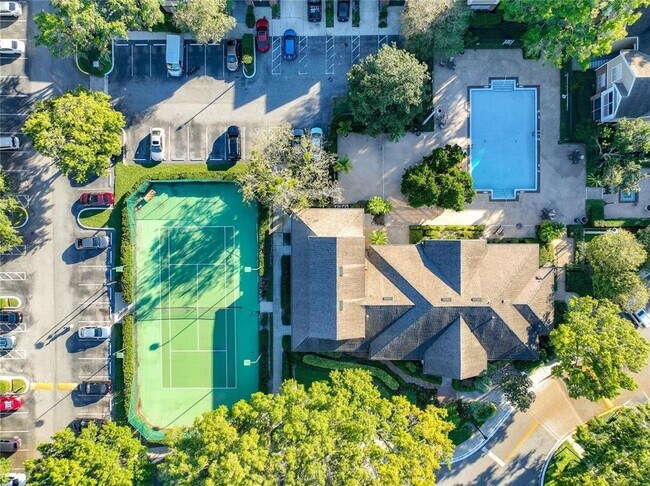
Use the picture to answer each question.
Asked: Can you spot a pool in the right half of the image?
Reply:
Yes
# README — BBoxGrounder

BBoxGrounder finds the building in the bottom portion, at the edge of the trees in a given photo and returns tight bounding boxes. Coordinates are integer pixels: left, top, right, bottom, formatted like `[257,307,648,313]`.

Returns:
[290,208,554,381]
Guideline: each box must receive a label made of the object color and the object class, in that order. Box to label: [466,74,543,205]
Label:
blue swimming pool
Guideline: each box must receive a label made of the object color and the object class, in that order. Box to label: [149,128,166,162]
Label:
white car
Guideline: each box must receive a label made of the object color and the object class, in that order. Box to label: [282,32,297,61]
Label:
blue car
